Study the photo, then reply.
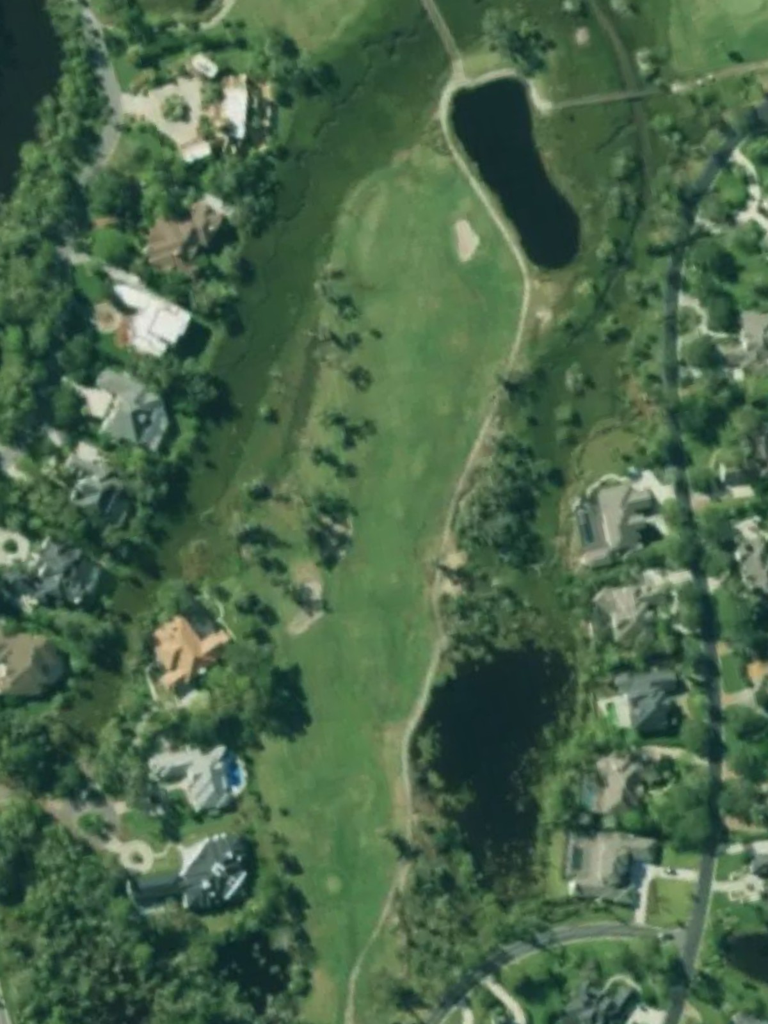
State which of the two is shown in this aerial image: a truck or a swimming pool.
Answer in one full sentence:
The one in the frame is a swimming pool.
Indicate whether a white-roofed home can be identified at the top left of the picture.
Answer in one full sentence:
Yes, a white-roofed home can be seen at the top left of the picture.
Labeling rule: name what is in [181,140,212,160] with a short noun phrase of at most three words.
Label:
building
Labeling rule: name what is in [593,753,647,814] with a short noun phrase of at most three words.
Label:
house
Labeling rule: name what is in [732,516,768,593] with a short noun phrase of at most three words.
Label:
house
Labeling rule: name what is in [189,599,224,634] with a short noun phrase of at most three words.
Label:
swimming pool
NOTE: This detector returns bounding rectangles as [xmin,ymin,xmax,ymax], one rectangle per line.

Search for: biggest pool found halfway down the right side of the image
[580,508,596,544]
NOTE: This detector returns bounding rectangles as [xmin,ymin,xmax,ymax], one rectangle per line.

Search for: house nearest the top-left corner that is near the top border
[188,49,221,79]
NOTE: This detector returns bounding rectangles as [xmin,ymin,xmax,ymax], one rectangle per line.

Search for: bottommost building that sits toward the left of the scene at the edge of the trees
[132,830,254,913]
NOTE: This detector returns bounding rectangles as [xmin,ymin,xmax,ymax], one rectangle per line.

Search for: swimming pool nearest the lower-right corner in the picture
[571,847,583,869]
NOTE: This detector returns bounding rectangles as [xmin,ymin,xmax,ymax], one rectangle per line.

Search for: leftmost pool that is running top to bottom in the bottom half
[227,755,243,786]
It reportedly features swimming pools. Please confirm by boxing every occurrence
[571,847,583,869]
[606,702,620,729]
[580,508,596,544]
[227,755,243,786]
[189,599,224,634]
